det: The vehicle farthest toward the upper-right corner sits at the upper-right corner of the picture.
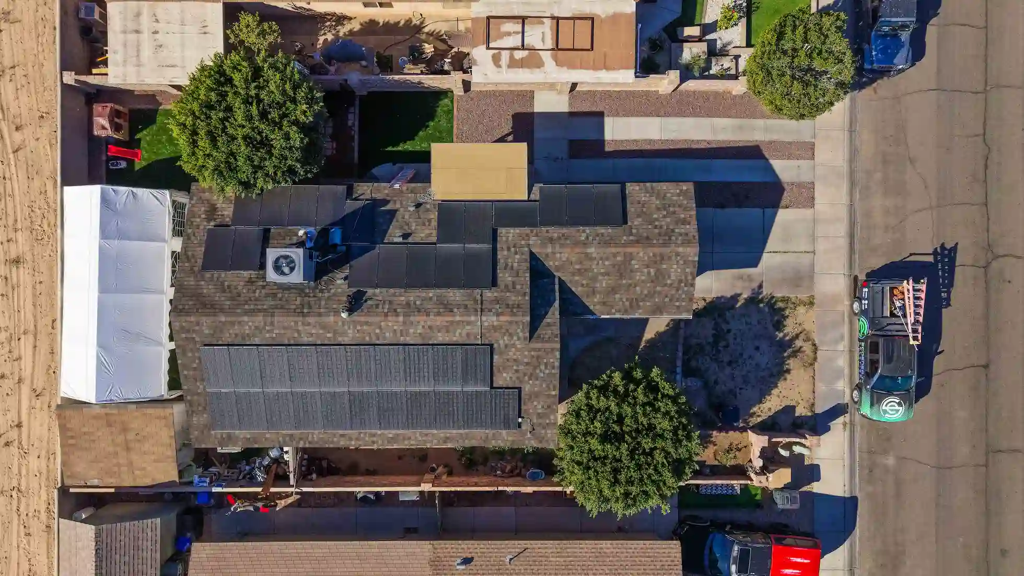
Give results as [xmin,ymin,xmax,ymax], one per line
[854,0,916,73]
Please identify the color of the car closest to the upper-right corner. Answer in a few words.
blue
